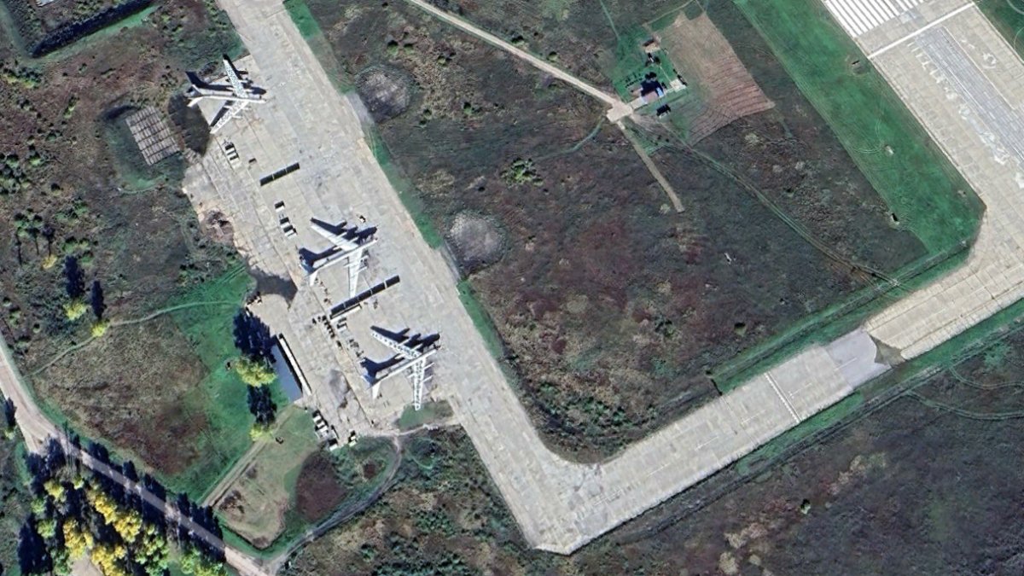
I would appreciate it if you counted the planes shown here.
3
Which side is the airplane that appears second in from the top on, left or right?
left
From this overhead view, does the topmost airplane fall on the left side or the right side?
left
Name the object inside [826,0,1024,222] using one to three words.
runway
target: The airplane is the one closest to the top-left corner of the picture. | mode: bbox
[184,58,267,136]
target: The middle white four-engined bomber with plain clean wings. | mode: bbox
[300,224,377,298]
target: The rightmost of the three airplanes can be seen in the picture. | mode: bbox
[360,337,439,409]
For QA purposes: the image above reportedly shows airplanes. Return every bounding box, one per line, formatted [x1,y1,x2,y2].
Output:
[300,224,377,298]
[360,337,439,409]
[184,58,267,136]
